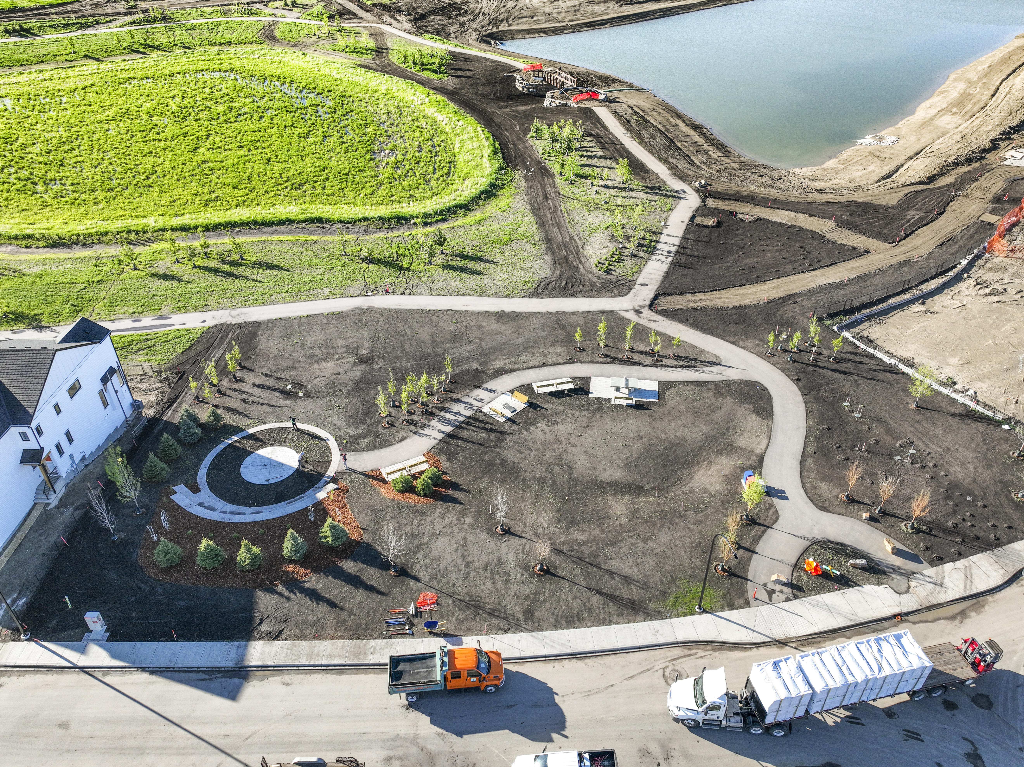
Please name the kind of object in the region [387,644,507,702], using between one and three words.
truck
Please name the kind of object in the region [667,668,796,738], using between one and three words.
truck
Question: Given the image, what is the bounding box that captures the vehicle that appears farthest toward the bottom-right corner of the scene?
[954,635,1010,685]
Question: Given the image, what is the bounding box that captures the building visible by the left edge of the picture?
[0,319,134,528]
